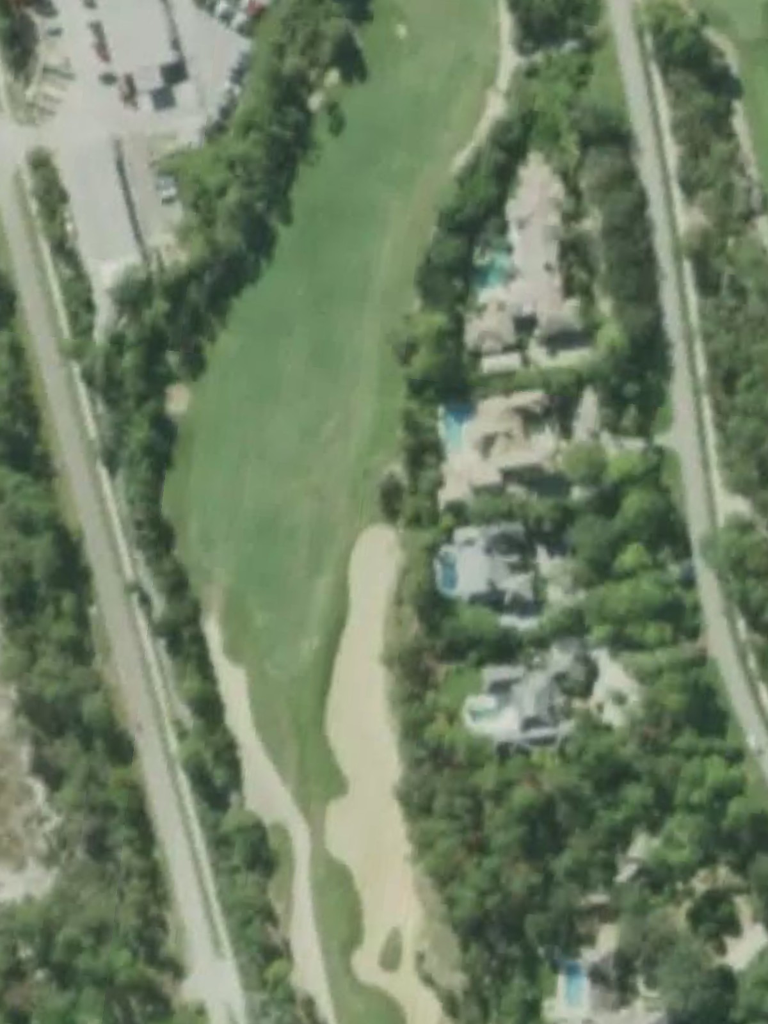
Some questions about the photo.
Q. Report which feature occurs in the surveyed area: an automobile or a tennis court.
automobile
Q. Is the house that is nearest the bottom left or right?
right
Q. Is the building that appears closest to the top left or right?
left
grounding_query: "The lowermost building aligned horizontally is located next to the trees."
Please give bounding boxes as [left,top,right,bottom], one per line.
[583,893,612,907]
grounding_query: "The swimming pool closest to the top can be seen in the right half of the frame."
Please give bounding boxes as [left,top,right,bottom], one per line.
[473,247,513,288]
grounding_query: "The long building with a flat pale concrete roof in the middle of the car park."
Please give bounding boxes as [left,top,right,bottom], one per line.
[102,0,174,88]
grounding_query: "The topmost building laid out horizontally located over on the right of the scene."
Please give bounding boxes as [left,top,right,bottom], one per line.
[481,352,522,373]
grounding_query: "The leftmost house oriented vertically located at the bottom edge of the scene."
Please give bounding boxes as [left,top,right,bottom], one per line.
[590,923,621,1013]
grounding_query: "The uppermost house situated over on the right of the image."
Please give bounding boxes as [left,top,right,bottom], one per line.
[465,150,586,355]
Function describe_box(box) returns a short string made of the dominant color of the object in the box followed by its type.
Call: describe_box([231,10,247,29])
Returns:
white car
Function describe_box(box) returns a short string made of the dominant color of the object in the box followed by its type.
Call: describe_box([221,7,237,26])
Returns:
gray car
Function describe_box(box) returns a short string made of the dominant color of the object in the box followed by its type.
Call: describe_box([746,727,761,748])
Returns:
white car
